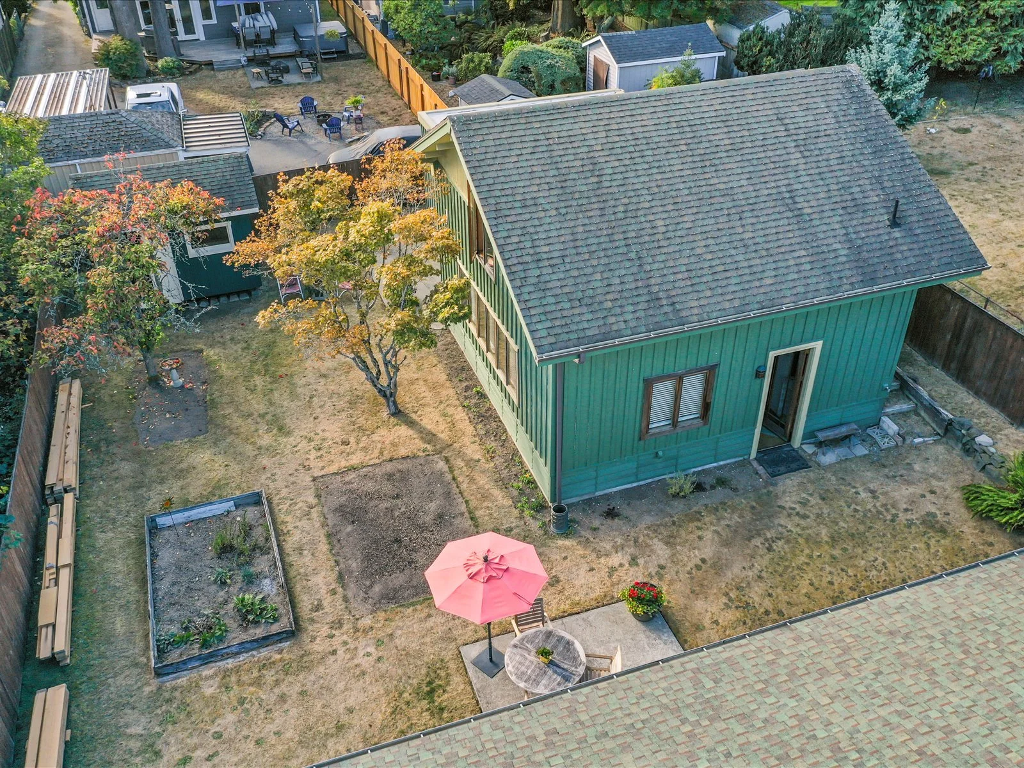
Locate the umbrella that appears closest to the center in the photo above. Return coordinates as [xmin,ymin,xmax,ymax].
[421,533,554,676]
